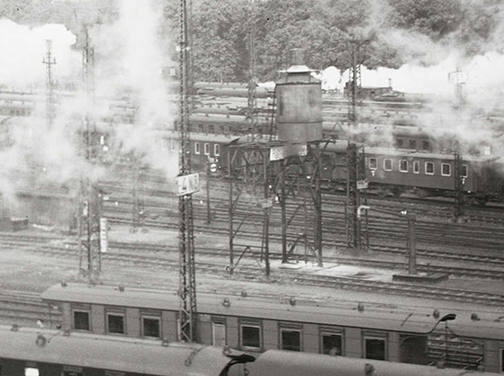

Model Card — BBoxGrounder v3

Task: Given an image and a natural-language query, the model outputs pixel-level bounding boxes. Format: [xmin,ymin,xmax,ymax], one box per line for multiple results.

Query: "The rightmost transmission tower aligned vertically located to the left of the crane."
[332,40,378,250]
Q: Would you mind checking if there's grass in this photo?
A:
No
